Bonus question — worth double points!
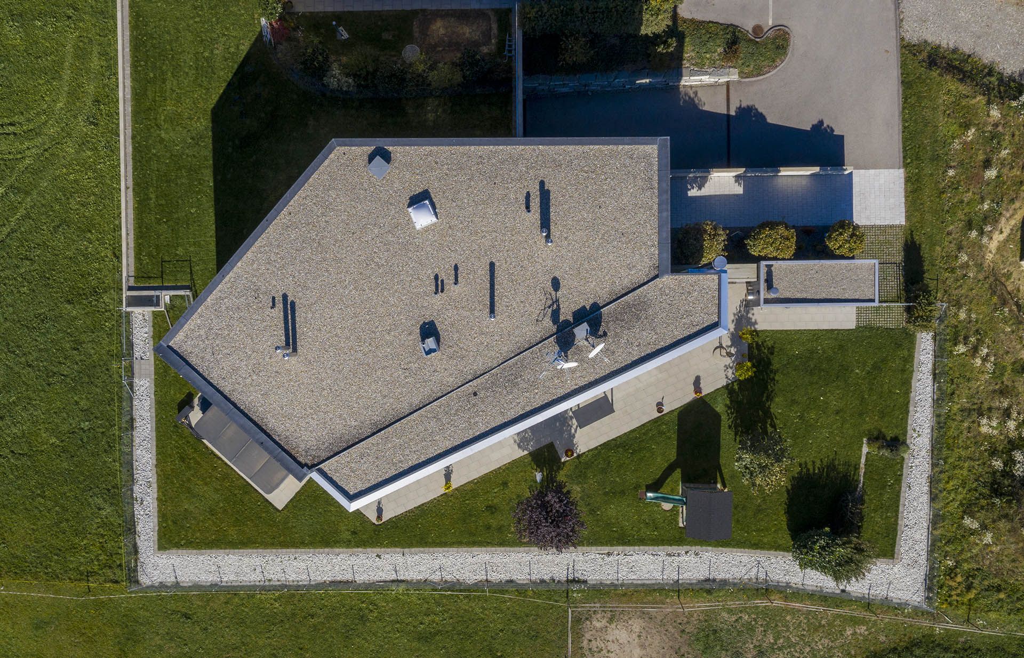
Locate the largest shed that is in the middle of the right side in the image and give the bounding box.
[744,260,878,307]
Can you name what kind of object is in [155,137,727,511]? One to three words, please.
house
